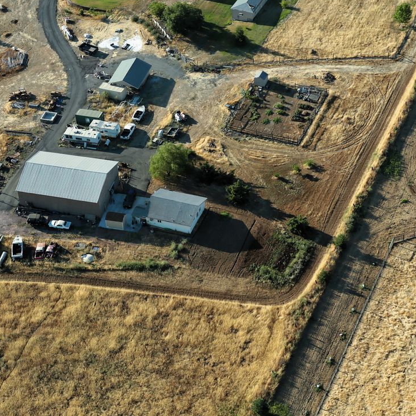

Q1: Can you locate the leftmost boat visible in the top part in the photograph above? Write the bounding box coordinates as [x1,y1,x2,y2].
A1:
[129,102,145,121]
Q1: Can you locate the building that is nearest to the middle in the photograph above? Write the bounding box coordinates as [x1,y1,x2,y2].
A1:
[147,189,207,235]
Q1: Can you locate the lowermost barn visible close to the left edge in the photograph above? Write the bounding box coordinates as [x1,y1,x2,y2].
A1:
[15,150,118,217]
